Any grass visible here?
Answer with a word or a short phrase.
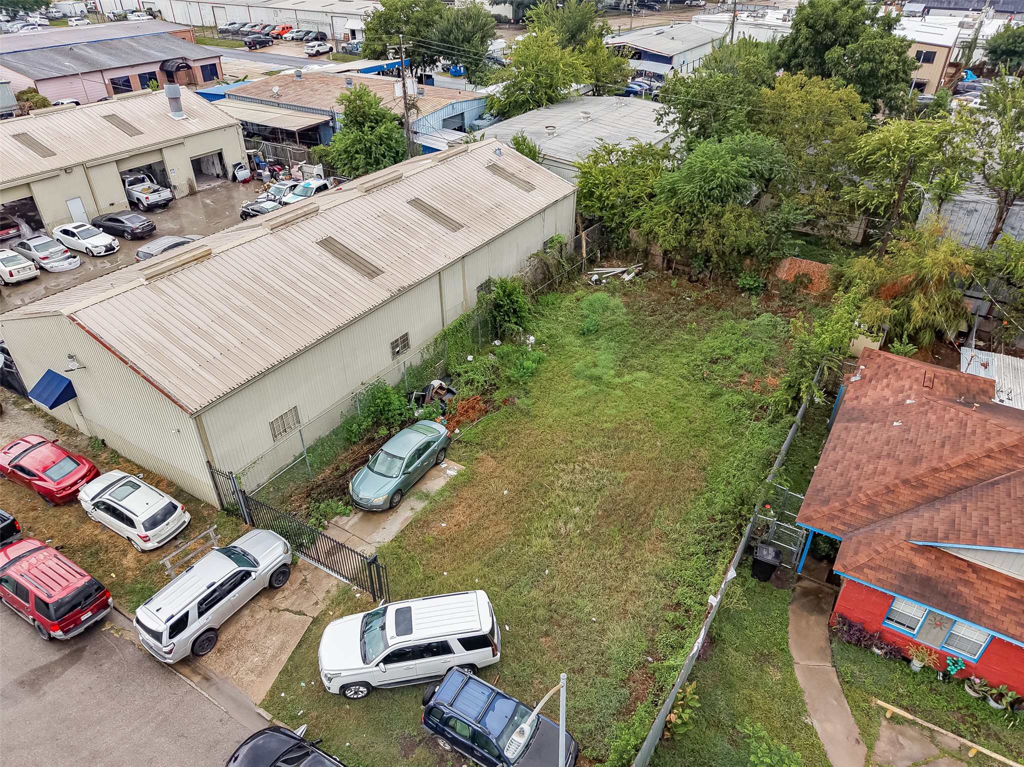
Yes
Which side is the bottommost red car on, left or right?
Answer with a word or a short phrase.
left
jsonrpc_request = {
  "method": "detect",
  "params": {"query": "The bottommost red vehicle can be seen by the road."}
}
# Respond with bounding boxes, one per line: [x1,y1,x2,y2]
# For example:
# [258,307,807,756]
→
[0,536,110,643]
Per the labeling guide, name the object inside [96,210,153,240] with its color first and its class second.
gray car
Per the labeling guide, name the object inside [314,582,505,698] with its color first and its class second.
white car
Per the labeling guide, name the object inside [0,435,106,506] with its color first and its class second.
red car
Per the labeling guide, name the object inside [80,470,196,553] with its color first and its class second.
white car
